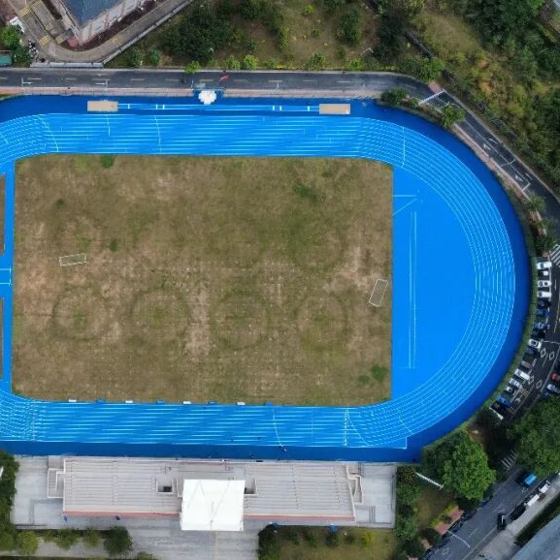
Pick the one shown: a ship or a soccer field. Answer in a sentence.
Visible in the photo is a soccer field.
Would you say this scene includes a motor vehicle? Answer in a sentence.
Yes, a motor vehicle appears in the view.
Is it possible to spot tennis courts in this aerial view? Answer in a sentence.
No, the photo shows no tennis court.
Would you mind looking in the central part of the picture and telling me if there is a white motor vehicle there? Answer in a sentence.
No, no white motor vehicle is visible in the central part of the picture.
